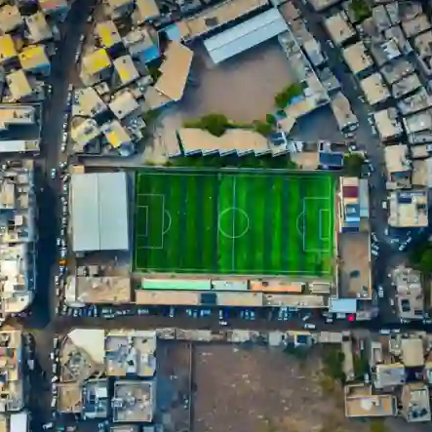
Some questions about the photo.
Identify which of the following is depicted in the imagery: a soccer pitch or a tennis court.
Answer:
soccer pitch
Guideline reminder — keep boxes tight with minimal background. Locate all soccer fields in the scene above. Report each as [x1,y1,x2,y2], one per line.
[132,168,334,278]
